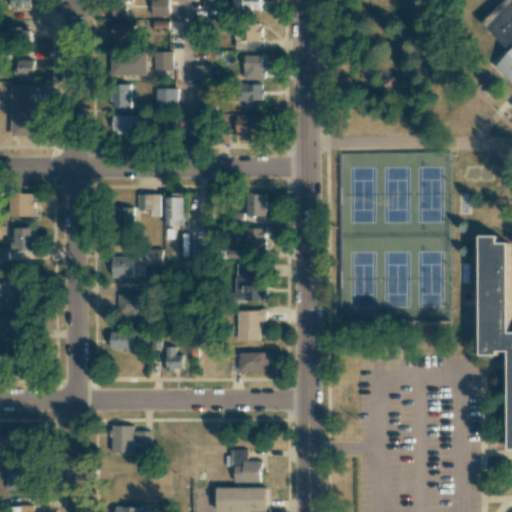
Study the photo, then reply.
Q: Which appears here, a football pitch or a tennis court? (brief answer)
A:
tennis court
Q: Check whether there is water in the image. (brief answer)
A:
No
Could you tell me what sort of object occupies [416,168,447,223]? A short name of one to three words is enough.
tennis court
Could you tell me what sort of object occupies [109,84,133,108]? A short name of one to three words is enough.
house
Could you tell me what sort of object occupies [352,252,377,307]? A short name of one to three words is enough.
tennis court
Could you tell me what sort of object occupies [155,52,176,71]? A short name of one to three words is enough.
building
